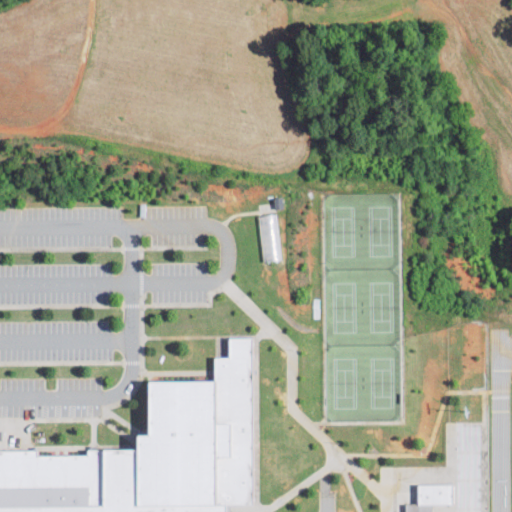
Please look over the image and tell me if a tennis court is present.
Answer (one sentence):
Yes, there is a tennis court in the image.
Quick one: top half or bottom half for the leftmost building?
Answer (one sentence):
The leftmost building is in the bottom half of the image.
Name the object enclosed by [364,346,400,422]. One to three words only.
tennis court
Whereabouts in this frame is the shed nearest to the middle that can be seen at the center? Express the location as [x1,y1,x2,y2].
[260,214,282,264]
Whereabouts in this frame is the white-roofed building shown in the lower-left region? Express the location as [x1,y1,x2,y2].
[0,338,253,512]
